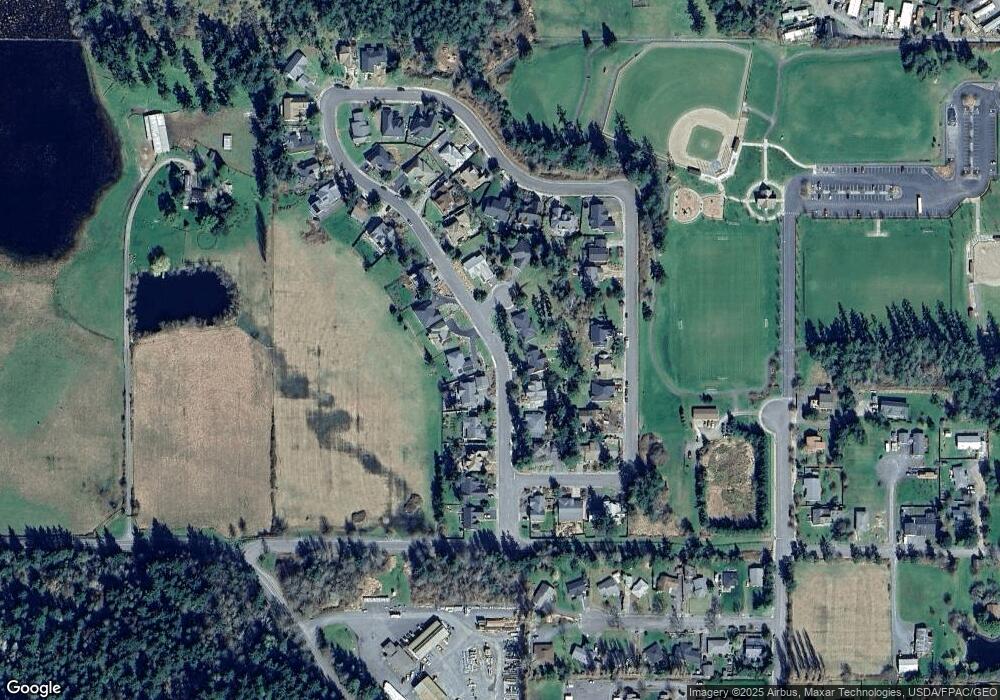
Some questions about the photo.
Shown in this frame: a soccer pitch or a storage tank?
soccer pitch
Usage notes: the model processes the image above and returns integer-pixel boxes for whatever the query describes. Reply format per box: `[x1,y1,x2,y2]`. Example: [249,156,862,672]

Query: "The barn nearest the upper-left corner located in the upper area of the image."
[146,112,166,150]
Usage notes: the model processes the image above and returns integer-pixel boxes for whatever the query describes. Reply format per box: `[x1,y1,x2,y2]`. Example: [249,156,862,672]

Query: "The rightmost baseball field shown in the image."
[974,241,1000,318]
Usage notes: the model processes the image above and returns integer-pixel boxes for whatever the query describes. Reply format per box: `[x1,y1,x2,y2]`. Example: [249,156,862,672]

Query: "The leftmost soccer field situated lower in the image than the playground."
[662,226,773,388]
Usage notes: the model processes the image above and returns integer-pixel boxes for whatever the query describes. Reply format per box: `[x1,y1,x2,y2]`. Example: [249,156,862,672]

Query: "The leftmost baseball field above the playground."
[604,42,748,179]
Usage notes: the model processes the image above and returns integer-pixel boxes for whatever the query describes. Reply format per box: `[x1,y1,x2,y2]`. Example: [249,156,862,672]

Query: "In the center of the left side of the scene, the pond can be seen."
[132,266,234,336]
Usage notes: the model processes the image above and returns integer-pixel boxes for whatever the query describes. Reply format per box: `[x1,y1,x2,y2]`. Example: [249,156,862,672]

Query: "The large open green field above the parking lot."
[782,52,936,161]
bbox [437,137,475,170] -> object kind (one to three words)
house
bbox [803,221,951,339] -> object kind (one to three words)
sports field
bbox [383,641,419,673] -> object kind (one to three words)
building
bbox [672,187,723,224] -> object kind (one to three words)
playground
